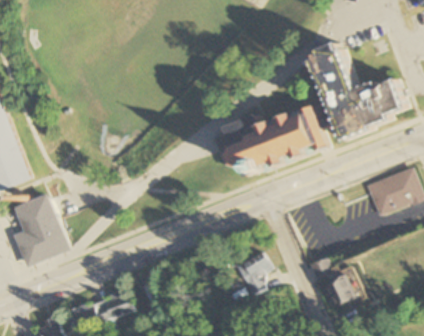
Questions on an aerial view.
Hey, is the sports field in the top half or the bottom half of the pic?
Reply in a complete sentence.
Seen from above, the sports field lies in the top half of the view.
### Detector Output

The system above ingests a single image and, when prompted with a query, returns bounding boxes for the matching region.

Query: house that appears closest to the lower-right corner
[333,268,366,304]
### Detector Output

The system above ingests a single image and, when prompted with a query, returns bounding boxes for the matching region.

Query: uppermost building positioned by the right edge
[304,44,408,140]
